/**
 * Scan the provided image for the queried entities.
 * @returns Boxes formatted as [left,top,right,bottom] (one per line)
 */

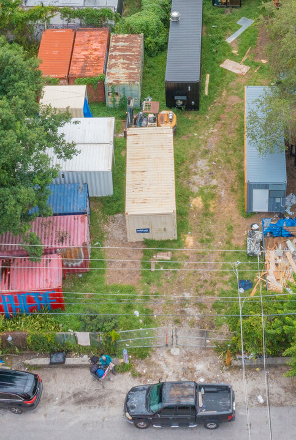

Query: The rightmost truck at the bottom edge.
[124,379,236,427]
